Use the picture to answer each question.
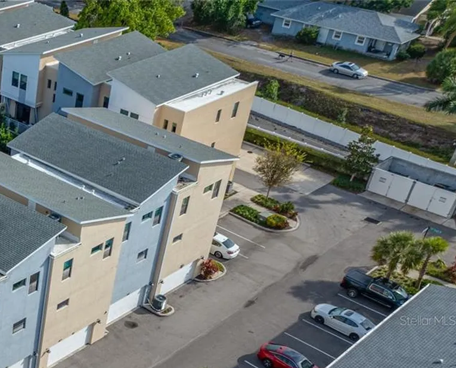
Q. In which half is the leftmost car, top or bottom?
bottom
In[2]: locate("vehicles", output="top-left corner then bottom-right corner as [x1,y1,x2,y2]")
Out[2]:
[343,271,418,314]
[310,303,379,342]
[256,343,317,368]
[210,232,240,260]
[329,63,368,78]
